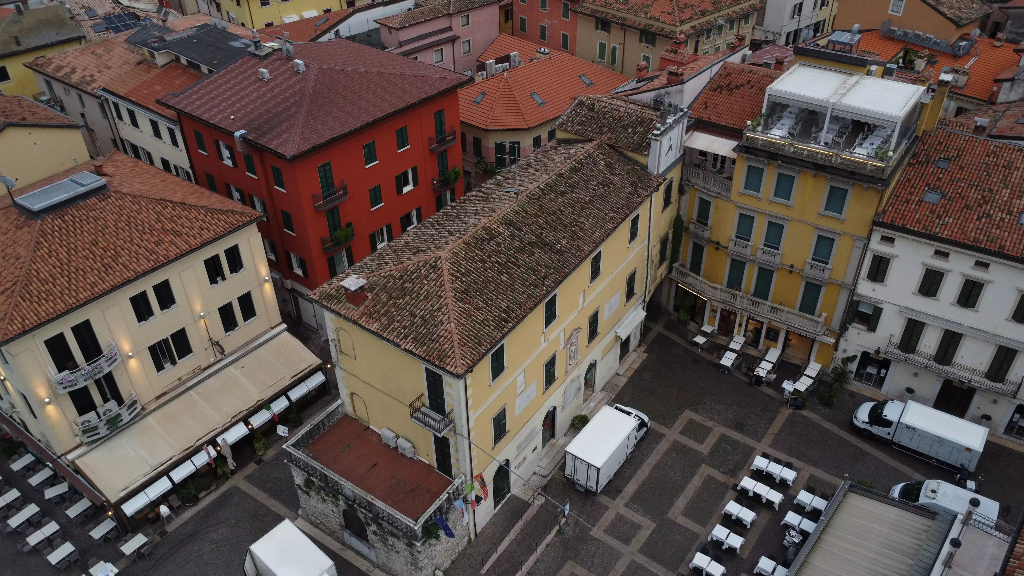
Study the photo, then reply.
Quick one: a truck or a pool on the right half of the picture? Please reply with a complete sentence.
You can see a truck on the right half of the picture.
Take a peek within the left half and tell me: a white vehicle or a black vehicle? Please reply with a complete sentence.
The one visible within the left half is a white vehicle.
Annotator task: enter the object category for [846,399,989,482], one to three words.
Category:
truck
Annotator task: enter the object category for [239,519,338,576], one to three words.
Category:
truck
